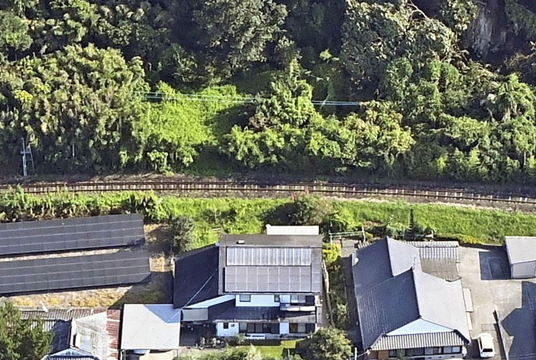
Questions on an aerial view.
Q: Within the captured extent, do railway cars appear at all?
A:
No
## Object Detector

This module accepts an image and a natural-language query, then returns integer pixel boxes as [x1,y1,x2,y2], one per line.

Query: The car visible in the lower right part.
[477,328,495,357]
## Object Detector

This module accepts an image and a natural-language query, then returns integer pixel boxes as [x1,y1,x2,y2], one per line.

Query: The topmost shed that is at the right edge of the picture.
[506,236,536,278]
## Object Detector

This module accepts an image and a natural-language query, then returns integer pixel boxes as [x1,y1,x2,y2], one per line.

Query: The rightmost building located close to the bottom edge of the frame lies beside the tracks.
[351,236,473,359]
